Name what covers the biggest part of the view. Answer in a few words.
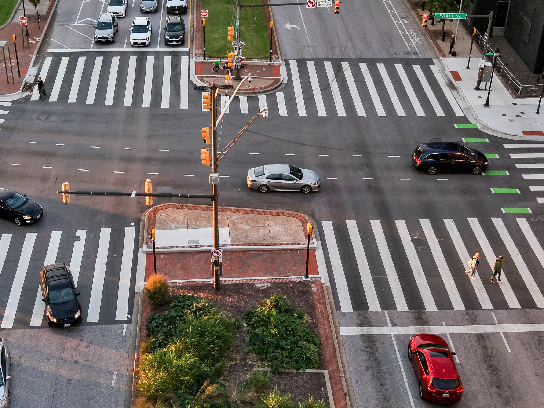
paved ground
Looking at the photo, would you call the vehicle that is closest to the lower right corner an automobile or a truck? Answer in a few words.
automobile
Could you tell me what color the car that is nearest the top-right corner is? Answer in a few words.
black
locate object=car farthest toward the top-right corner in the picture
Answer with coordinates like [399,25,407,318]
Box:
[411,141,493,175]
